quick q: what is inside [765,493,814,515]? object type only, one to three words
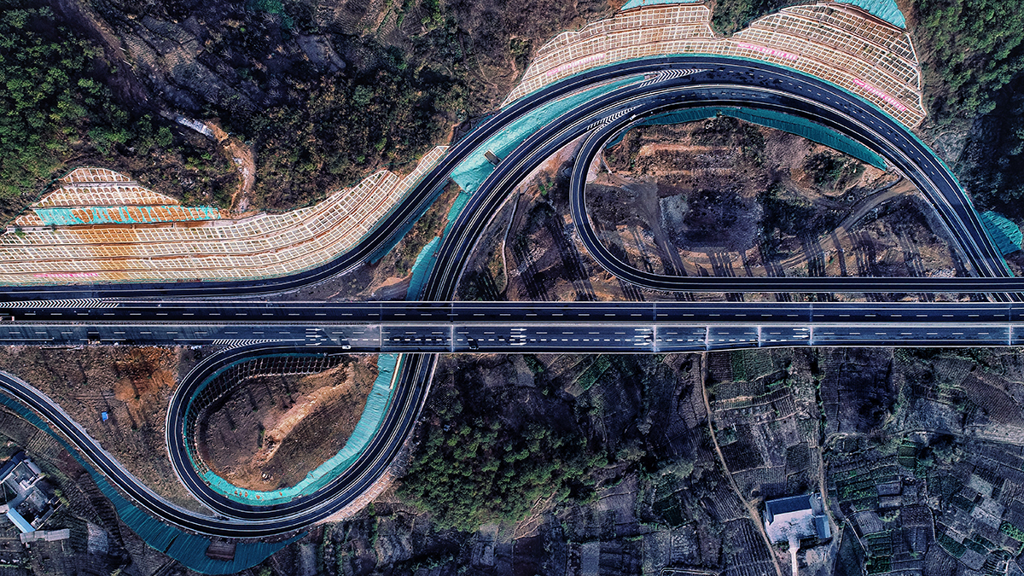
house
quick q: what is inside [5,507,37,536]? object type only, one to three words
shed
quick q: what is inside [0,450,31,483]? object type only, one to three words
house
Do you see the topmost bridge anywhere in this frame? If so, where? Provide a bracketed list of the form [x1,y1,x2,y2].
[571,150,1024,292]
